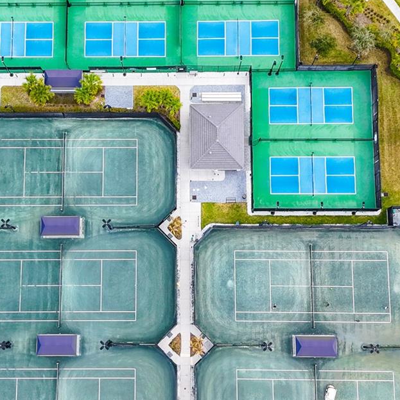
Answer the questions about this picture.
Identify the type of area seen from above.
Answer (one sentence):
This looks like a sports ground.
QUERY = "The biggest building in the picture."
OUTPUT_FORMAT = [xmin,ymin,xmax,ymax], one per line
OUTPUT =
[189,102,246,170]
